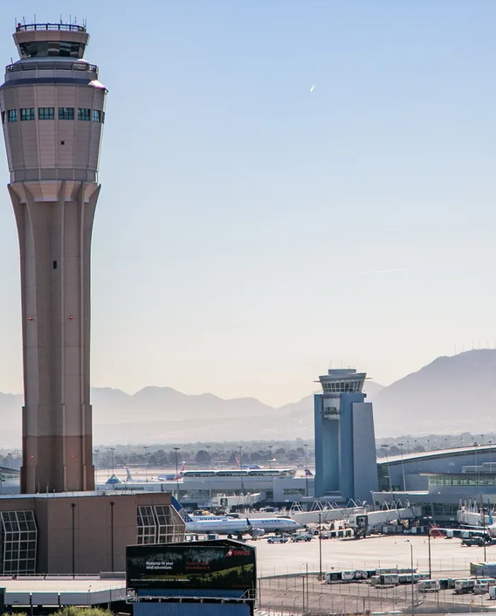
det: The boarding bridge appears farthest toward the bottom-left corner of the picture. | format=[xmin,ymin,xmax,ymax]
[211,488,270,516]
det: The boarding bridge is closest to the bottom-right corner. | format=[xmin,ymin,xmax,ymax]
[453,494,496,533]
